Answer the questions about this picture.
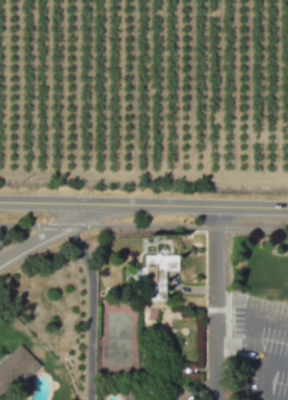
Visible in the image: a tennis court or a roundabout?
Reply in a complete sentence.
The image shows a tennis court.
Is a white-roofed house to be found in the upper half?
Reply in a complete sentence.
No, no white-roofed house is visible in the upper half.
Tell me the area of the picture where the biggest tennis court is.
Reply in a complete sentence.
You can find the biggest tennis court in the bottom area of the picture.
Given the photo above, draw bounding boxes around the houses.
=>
[136,252,180,303]
[0,346,42,396]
